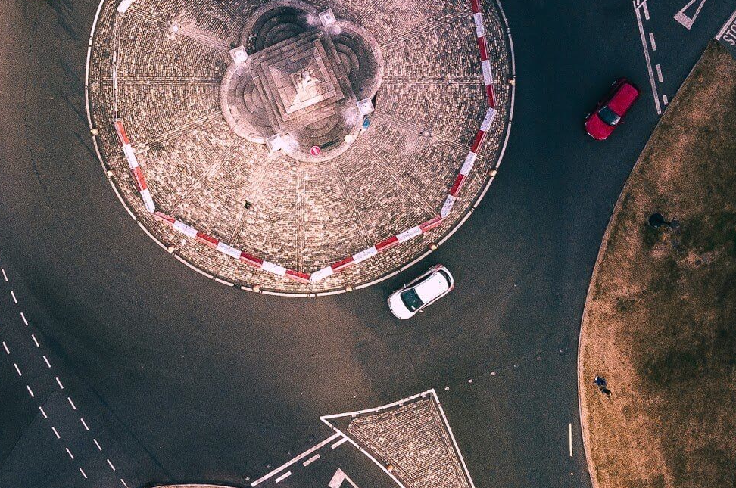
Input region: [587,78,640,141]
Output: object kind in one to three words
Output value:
car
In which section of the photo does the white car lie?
center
